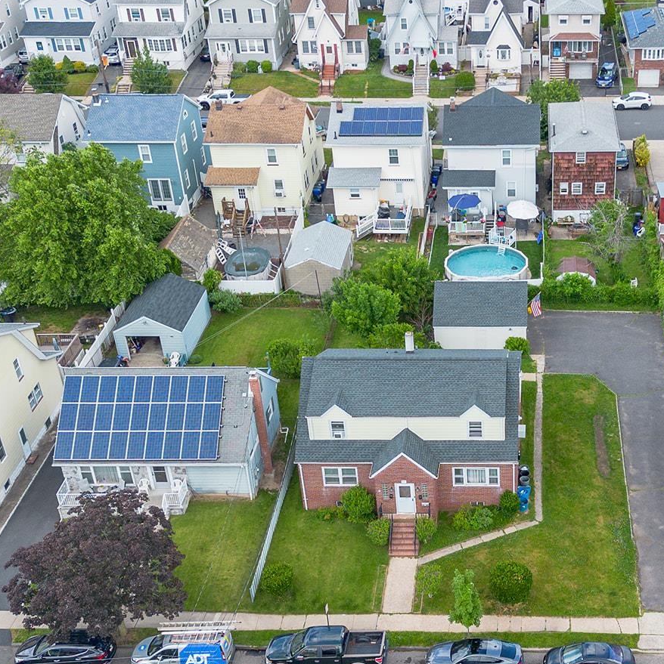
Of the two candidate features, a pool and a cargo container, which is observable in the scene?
pool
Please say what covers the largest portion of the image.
buildings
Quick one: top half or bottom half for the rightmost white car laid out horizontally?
top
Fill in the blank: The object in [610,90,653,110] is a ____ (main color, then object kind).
white car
